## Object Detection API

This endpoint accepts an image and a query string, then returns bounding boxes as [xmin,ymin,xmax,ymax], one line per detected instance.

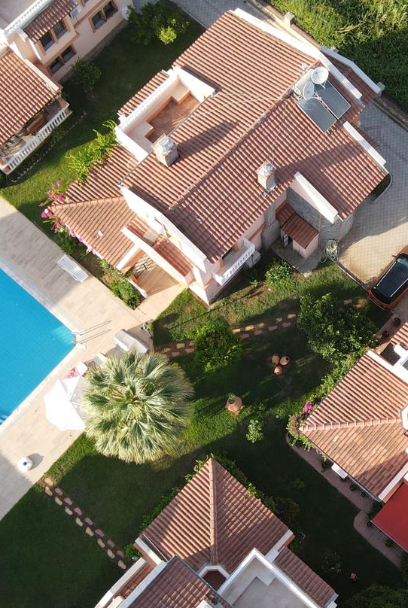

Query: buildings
[113,457,350,608]
[45,6,393,314]
[0,0,148,186]
[297,320,408,508]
